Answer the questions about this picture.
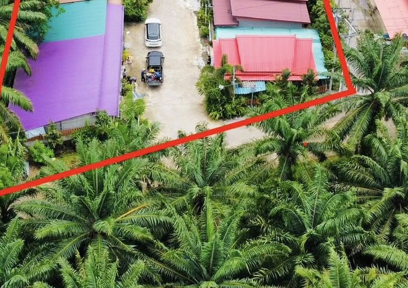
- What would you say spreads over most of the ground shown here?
trees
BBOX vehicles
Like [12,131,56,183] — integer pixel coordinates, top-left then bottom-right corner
[145,51,166,91]
[144,21,162,50]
